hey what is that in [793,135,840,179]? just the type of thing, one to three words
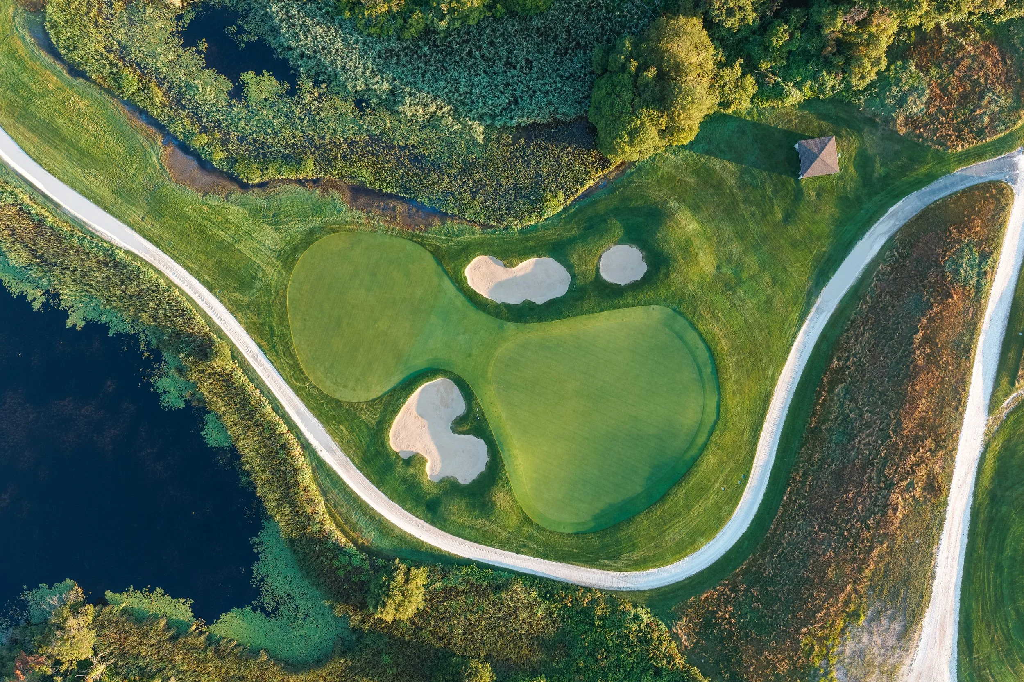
building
